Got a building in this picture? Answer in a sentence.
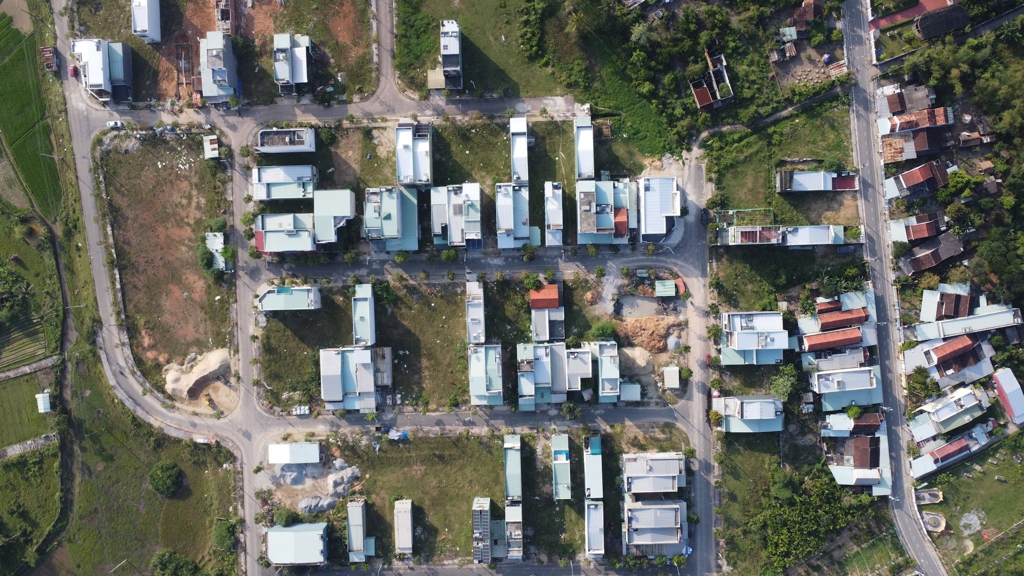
Yes, the frame does contain a building.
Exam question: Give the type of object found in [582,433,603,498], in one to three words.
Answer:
house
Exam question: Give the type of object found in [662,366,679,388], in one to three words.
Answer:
shed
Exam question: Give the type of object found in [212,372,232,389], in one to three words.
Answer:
vehicle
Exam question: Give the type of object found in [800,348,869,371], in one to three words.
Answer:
house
